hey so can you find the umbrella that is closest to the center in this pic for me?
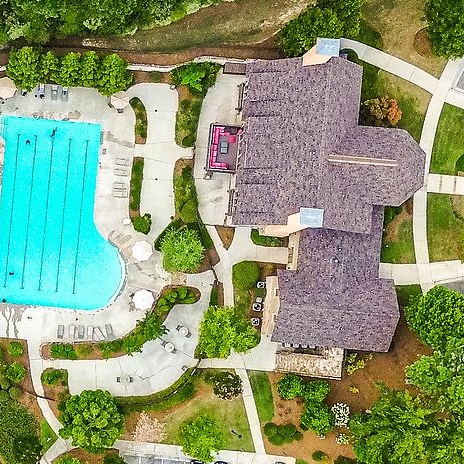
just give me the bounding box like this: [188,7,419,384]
[131,241,152,262]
